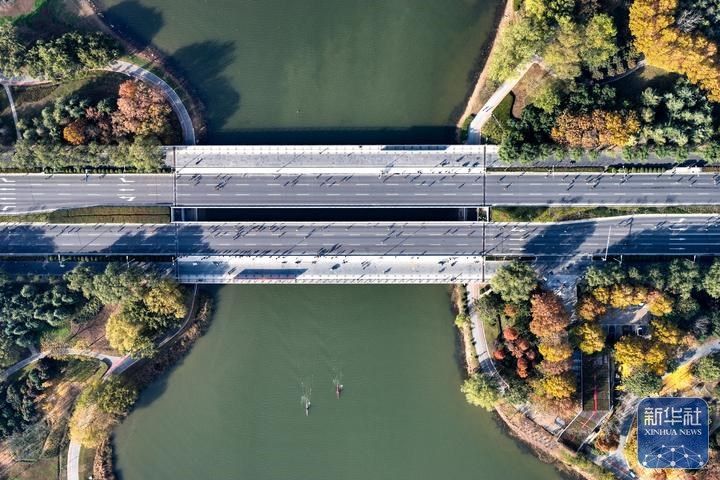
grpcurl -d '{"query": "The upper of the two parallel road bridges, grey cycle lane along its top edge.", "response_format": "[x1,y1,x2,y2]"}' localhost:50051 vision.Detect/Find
[172,145,488,208]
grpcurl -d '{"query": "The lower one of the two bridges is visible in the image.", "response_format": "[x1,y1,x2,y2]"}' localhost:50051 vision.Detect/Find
[172,221,488,284]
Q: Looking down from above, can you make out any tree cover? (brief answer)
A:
Yes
